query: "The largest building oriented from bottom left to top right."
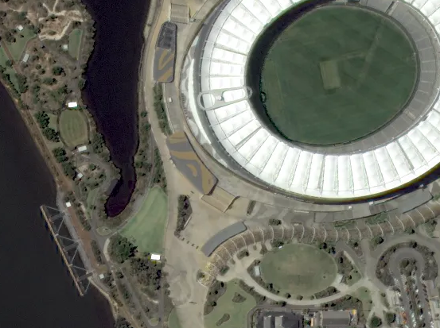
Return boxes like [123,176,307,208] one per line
[202,222,246,256]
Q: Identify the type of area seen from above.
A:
sports ground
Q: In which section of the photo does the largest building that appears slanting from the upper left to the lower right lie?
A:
center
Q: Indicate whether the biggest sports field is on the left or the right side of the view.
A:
right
